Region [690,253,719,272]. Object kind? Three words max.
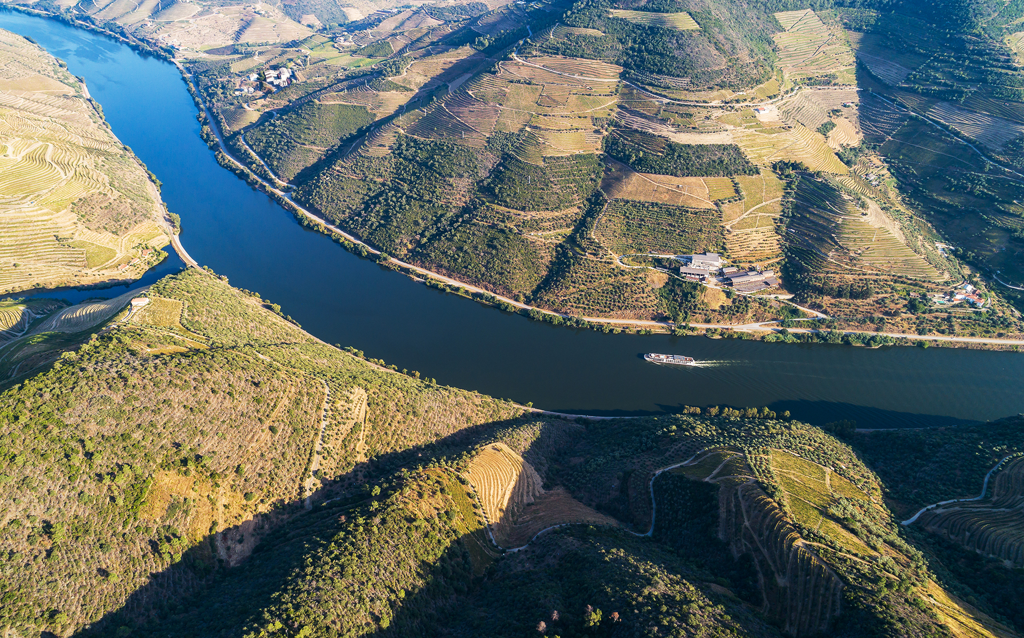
building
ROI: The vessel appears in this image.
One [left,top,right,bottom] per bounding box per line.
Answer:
[645,353,695,367]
